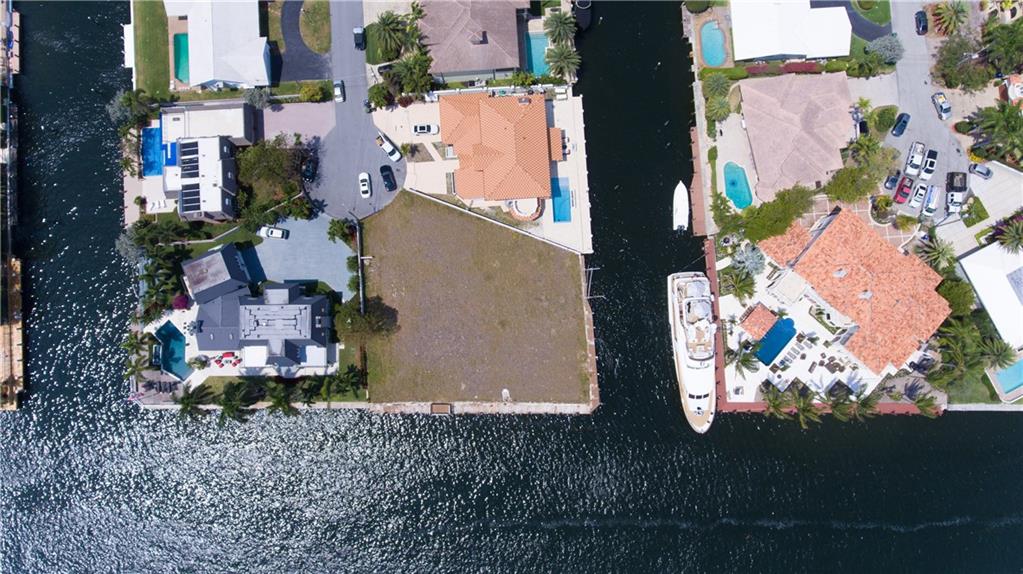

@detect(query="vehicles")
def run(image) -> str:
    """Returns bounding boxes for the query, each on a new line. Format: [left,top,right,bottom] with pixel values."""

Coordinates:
[334,80,345,104]
[913,10,928,36]
[374,133,403,162]
[375,64,398,77]
[414,123,439,135]
[891,112,910,138]
[909,183,927,209]
[353,27,365,51]
[894,177,914,206]
[919,149,938,181]
[946,168,966,212]
[968,163,993,180]
[905,142,924,178]
[921,186,944,217]
[930,88,953,121]
[260,226,288,238]
[381,165,397,192]
[883,170,901,192]
[303,153,318,180]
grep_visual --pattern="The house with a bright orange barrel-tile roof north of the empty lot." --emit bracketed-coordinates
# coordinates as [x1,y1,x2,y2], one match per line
[439,94,563,201]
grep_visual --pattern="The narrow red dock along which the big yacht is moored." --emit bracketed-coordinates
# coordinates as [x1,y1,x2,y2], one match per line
[703,240,727,411]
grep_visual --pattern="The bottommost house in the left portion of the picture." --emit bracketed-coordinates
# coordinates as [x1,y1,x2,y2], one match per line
[182,243,342,369]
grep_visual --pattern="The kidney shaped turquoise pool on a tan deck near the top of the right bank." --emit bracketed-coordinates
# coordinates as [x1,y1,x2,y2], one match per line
[699,19,727,66]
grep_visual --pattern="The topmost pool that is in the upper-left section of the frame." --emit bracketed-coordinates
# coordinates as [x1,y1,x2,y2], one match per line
[173,32,190,85]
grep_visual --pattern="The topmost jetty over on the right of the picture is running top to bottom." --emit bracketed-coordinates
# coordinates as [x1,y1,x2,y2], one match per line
[680,3,694,39]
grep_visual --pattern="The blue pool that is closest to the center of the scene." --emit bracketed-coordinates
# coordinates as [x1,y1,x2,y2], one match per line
[550,177,572,224]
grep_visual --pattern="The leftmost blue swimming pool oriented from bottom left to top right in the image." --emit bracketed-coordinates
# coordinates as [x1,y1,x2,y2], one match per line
[754,316,799,367]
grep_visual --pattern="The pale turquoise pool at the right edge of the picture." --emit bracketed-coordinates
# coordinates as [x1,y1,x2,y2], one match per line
[992,359,1023,397]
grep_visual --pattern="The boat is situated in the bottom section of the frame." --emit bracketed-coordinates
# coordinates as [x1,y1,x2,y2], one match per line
[667,264,718,433]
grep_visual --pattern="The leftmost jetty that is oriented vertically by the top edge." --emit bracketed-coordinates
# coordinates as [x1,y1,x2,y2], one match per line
[12,12,25,75]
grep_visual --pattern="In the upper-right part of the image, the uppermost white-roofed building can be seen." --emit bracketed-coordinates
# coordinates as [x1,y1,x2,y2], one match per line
[729,0,852,64]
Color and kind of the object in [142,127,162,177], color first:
blue swimming pool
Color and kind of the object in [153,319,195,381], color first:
blue swimming pool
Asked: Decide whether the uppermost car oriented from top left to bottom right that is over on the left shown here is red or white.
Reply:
white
